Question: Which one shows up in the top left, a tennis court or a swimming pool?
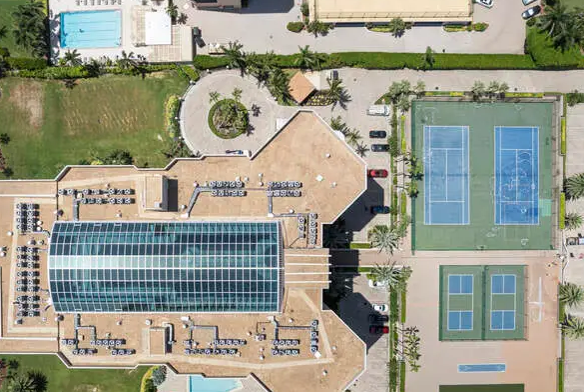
swimming pool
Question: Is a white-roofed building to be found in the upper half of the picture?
Yes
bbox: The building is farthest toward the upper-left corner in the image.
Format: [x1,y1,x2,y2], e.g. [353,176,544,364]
[145,12,172,48]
